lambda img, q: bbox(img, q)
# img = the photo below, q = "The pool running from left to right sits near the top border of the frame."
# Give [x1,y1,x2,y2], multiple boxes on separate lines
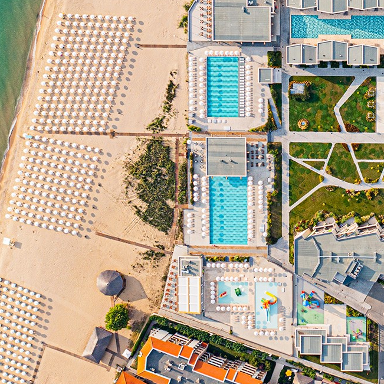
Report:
[290,14,384,40]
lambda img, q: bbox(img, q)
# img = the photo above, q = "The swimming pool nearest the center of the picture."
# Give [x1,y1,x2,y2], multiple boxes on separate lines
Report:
[208,176,248,245]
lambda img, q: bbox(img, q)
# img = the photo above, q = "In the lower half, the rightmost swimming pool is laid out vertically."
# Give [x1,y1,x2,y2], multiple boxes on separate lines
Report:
[255,281,278,330]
